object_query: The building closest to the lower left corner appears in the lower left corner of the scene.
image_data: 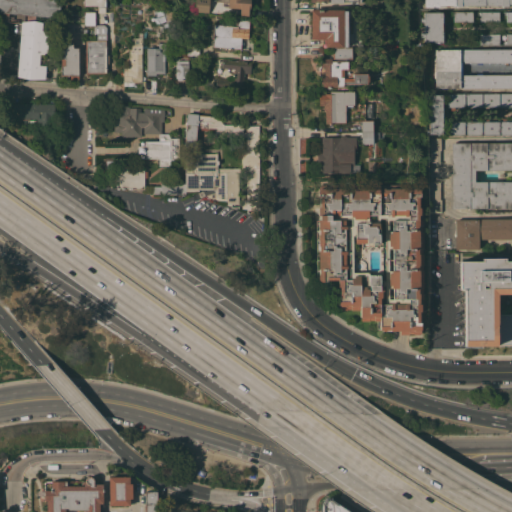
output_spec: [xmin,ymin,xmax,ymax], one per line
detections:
[46,476,105,512]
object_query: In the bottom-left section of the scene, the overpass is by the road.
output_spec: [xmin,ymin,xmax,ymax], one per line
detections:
[24,342,114,442]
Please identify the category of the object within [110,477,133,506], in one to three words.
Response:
building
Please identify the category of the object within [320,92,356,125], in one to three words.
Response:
house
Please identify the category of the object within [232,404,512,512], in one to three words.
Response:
bridge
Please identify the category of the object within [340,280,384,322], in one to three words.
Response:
house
